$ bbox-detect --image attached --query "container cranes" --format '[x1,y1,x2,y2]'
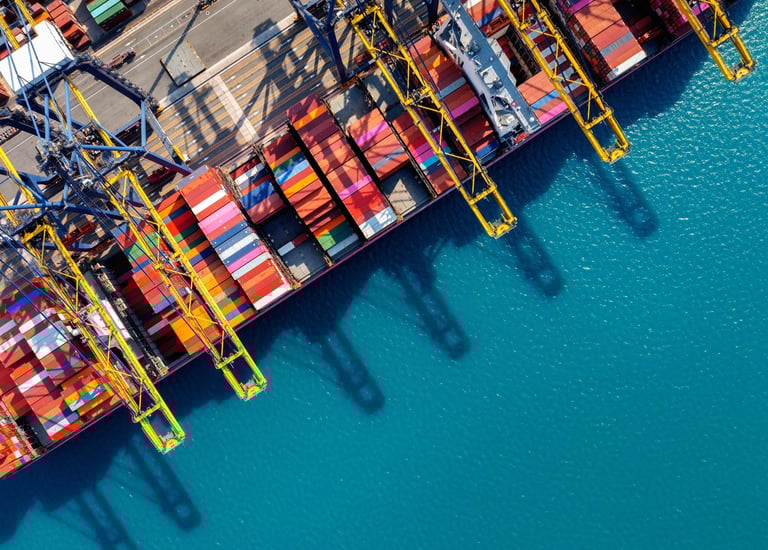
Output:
[0,98,188,454]
[284,0,518,239]
[0,0,268,401]
[669,0,757,86]
[413,0,633,165]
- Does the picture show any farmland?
No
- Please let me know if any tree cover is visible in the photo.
No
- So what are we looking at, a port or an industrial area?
port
